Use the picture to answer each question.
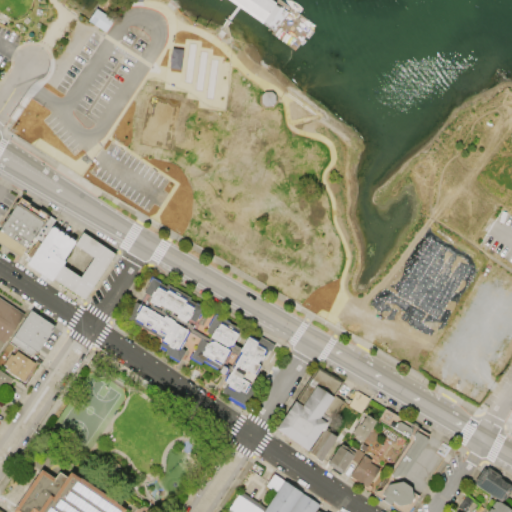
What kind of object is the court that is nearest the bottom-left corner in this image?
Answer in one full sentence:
The court that is nearest the bottom-left corner can be classified as a basketball court.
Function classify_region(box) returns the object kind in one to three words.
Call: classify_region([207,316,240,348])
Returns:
building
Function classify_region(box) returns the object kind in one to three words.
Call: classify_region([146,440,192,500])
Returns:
playground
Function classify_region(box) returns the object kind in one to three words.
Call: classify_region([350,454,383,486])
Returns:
house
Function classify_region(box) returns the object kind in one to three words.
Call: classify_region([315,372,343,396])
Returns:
building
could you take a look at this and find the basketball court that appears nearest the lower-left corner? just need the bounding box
[57,370,126,447]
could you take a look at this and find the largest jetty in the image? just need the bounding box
[272,8,316,51]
